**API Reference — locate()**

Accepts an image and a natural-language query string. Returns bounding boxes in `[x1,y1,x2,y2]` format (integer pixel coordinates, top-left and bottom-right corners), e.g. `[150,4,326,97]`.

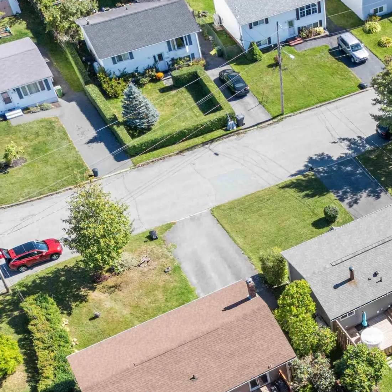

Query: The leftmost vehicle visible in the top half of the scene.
[216,69,251,99]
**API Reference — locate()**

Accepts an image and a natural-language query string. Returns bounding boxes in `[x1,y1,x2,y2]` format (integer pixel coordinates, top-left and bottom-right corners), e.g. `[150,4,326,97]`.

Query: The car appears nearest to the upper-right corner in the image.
[336,30,370,62]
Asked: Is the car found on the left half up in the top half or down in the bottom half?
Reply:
bottom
